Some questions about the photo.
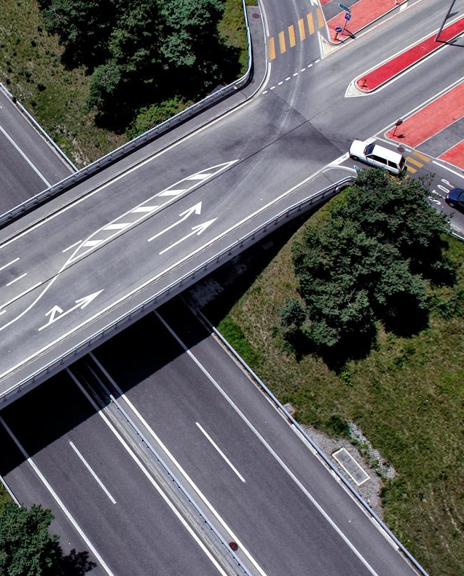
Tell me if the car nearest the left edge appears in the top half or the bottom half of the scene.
top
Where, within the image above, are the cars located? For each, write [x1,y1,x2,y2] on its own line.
[348,140,406,178]
[442,189,464,215]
